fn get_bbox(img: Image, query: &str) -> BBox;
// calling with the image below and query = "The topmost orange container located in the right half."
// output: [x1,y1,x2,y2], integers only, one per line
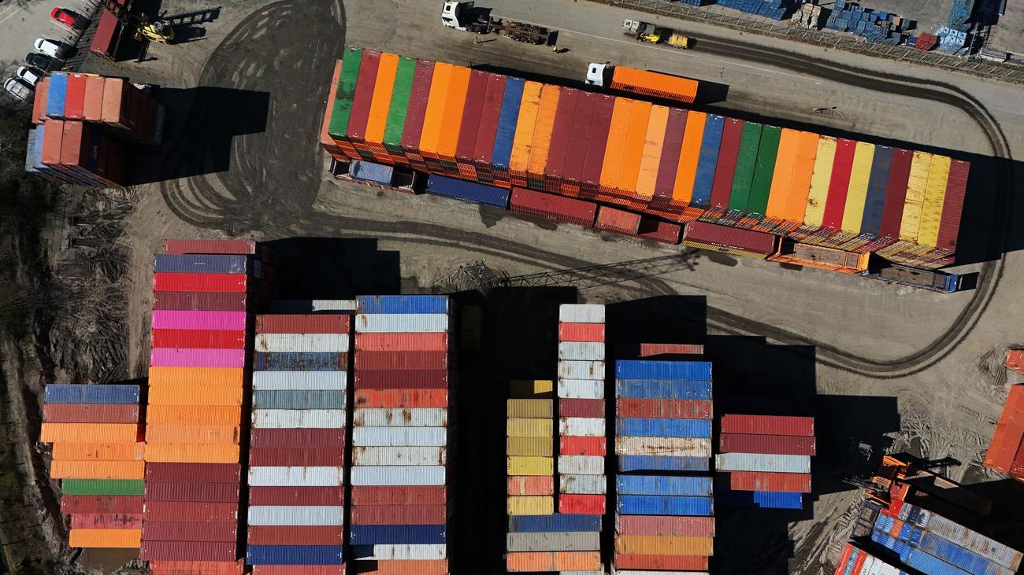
[613,58,699,95]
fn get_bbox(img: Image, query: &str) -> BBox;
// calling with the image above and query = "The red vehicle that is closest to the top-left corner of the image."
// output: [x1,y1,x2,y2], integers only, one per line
[51,8,82,29]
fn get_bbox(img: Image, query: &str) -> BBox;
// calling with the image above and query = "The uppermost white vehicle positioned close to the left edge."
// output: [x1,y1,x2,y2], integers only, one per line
[36,38,66,60]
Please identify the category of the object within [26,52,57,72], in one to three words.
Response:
car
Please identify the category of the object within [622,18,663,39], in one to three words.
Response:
truck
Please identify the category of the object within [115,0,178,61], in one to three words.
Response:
work vehicle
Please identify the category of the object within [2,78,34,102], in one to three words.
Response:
car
